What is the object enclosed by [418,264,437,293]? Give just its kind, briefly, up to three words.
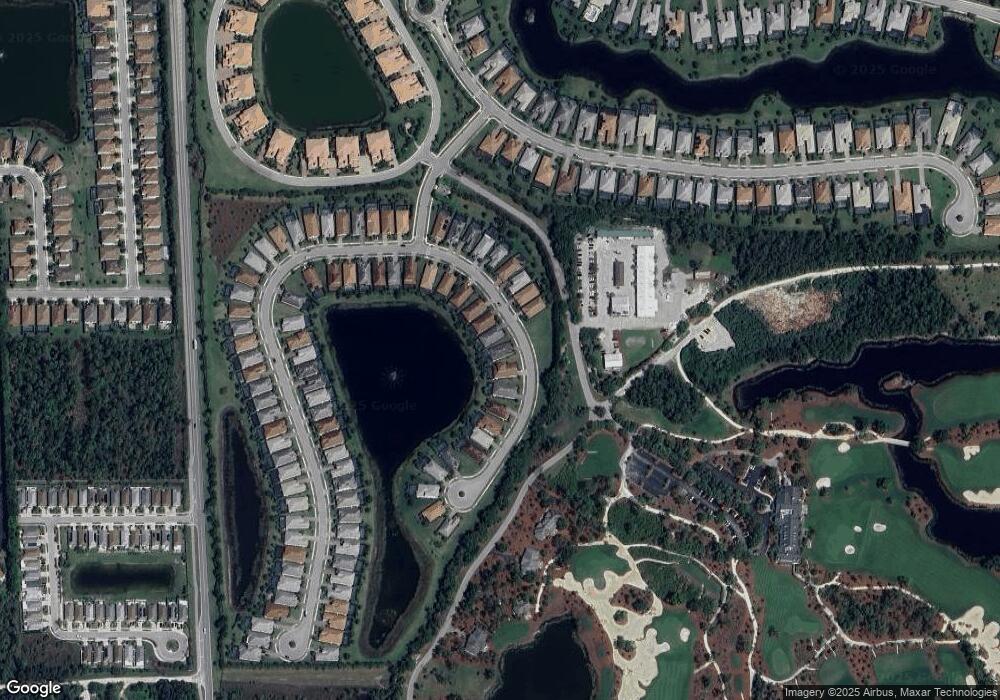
house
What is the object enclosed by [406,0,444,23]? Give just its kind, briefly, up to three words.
roundabout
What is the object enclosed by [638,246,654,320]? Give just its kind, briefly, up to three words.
building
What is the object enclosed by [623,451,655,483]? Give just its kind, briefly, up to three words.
tennis court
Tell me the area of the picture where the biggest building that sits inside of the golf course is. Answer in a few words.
bottom right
